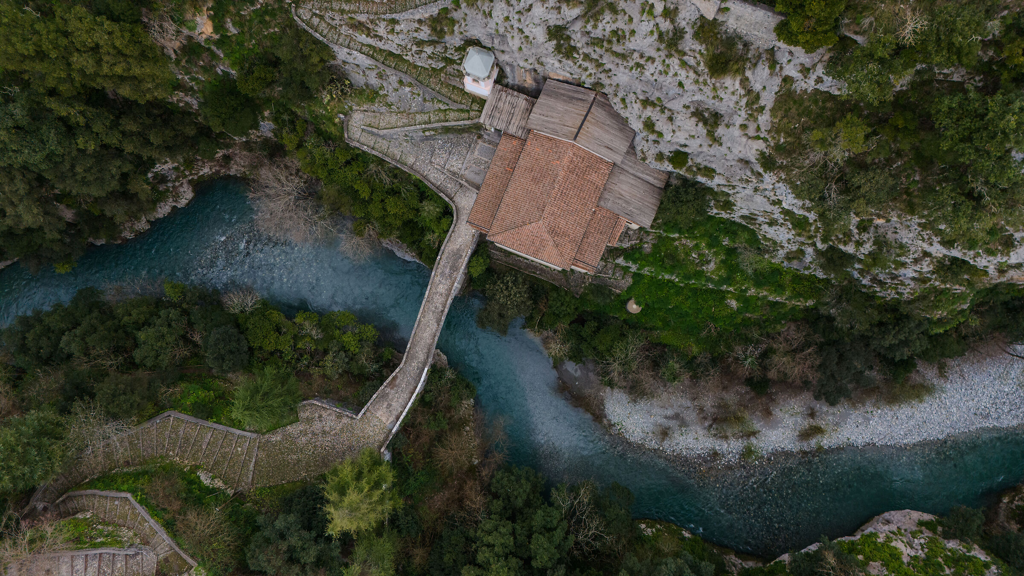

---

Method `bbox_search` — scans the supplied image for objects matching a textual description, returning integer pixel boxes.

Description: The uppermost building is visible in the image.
[462,47,499,98]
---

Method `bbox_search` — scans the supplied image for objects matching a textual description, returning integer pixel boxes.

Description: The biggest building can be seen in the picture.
[466,78,667,273]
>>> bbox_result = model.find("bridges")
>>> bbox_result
[358,213,481,450]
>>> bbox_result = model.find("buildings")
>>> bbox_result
[462,47,499,98]
[466,78,667,273]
